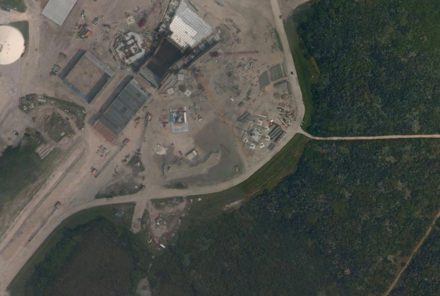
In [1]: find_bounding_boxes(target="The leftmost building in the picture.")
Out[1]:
[63,50,115,103]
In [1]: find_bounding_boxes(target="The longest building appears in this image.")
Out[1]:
[94,78,153,141]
